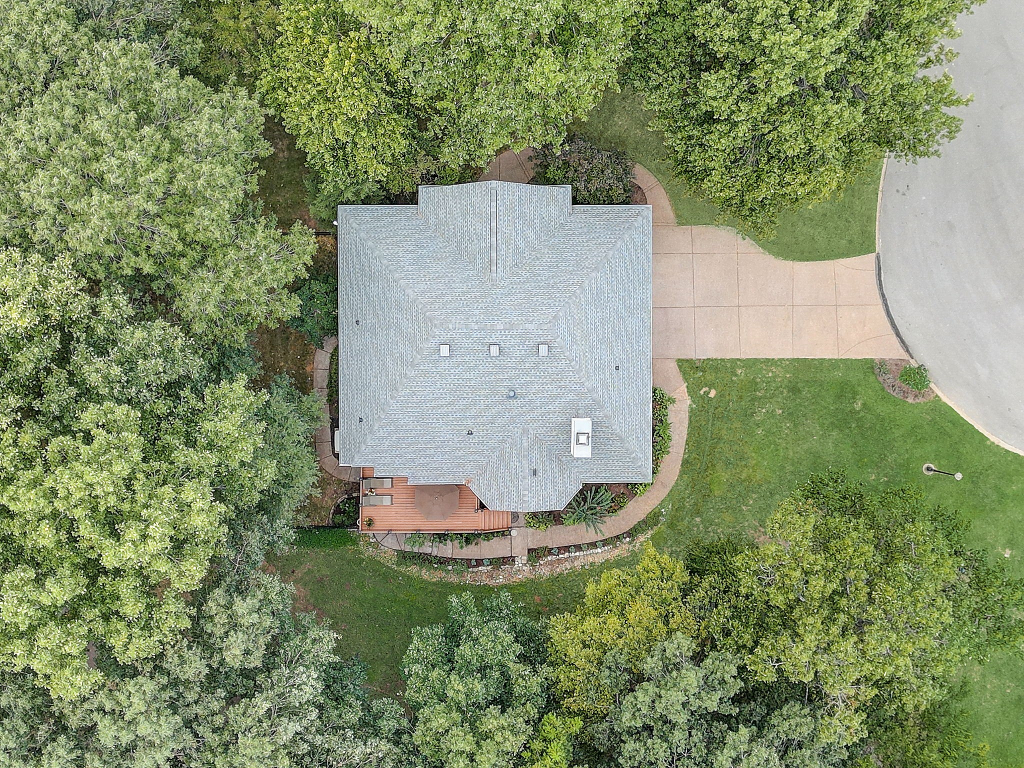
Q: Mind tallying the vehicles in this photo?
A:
0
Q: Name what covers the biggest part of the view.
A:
trees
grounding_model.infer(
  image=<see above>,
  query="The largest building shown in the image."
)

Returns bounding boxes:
[337,180,654,513]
